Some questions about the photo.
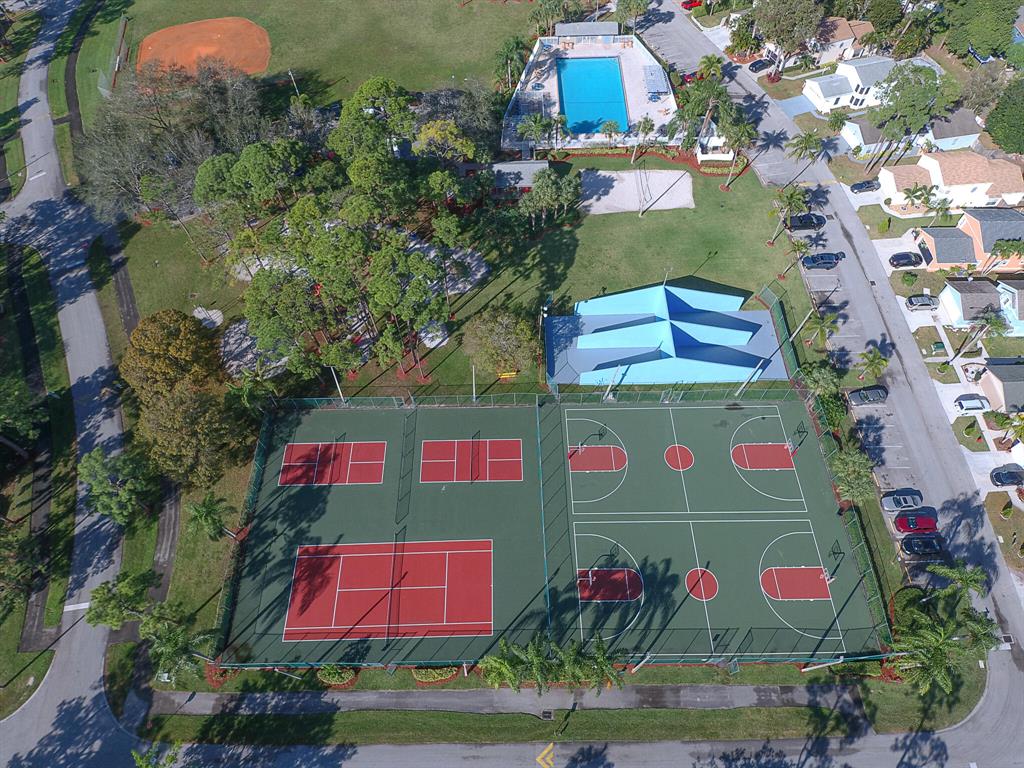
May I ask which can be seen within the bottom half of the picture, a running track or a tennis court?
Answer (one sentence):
You can see a tennis court within the bottom half of the picture.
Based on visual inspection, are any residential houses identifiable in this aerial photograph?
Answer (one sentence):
Yes, the photo shows a residential house.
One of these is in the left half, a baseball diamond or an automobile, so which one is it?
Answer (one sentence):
You can see a baseball diamond in the left half.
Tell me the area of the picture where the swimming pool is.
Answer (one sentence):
The swimming pool sits in the top section of the image.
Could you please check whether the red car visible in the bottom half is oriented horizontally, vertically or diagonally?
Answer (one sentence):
The red car visible in the bottom half has been laid out horizontally relative to the frame.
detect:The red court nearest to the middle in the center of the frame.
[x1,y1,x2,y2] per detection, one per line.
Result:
[420,436,525,484]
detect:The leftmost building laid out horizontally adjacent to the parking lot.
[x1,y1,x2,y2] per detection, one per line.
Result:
[555,21,620,44]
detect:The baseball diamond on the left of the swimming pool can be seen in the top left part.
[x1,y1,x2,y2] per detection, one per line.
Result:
[135,17,273,113]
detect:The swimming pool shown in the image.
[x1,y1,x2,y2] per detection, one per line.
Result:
[502,42,679,151]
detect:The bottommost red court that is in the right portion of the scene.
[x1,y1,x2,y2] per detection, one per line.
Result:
[572,519,846,655]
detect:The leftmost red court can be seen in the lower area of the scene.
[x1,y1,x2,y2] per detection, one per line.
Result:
[278,437,387,487]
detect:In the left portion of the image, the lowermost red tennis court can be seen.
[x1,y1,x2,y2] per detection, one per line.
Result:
[283,533,492,647]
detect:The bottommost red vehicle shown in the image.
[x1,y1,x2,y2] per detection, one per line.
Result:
[896,513,944,534]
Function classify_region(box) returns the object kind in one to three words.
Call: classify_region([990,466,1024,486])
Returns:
car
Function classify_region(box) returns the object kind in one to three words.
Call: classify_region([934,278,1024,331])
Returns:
house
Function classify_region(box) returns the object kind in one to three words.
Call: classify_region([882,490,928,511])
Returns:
car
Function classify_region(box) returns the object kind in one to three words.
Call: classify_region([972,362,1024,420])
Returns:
house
